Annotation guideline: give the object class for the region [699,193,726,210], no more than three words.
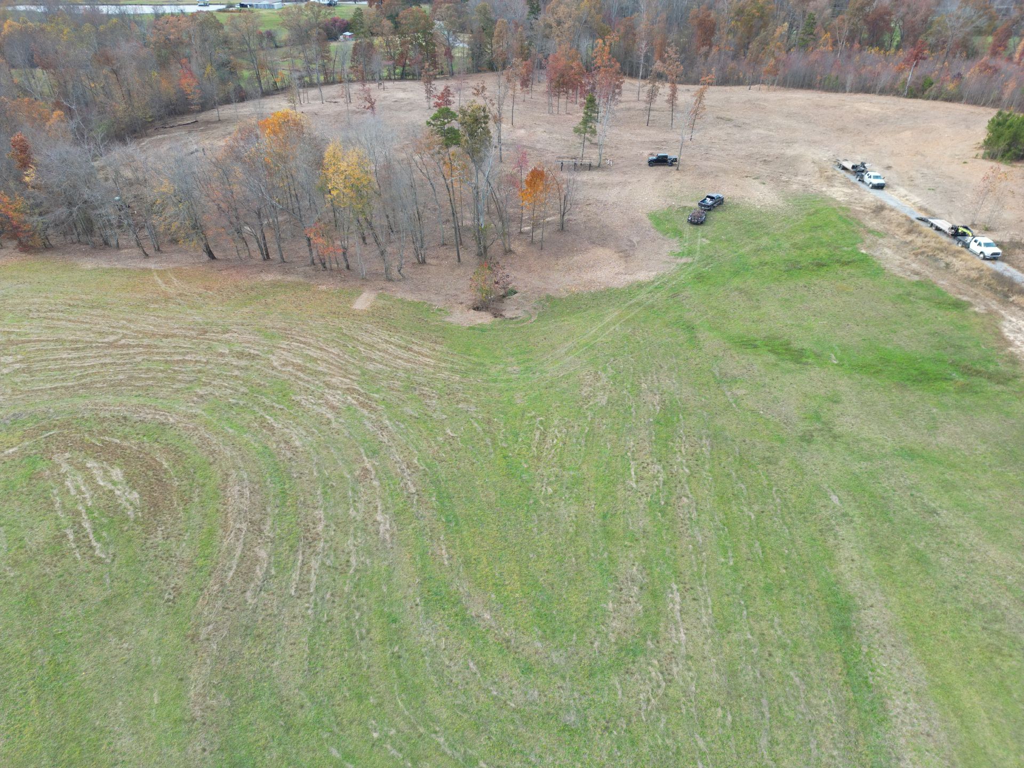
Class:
vehicle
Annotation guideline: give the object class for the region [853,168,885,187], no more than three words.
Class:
vehicle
